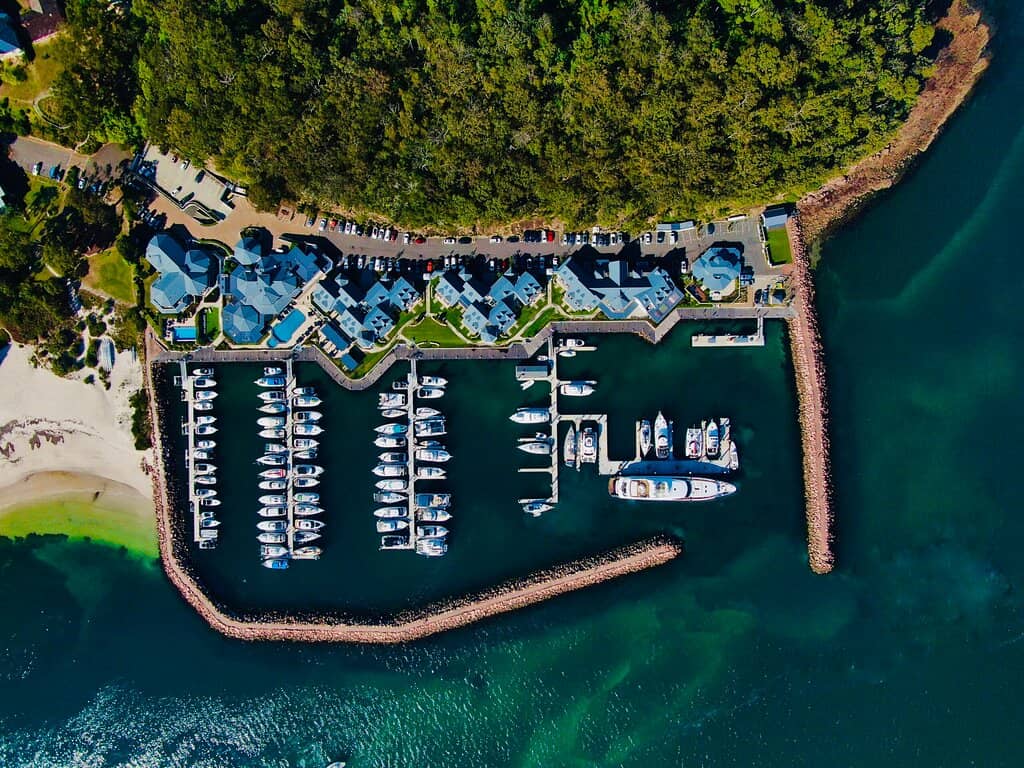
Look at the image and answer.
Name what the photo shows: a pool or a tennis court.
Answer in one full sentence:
It is a pool that can be seen here.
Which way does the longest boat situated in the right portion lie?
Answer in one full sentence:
The longest boat situated in the right portion is laid out from side to side.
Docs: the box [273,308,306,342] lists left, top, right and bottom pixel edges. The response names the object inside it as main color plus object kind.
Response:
blue swimming pool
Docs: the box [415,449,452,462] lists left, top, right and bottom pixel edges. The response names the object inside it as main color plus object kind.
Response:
white boat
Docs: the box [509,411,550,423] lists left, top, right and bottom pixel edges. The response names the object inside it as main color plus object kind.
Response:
white boat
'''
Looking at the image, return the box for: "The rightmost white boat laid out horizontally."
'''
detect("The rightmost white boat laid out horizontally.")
[607,474,737,501]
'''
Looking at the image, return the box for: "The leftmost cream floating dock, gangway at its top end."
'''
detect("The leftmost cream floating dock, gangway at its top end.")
[175,360,215,542]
